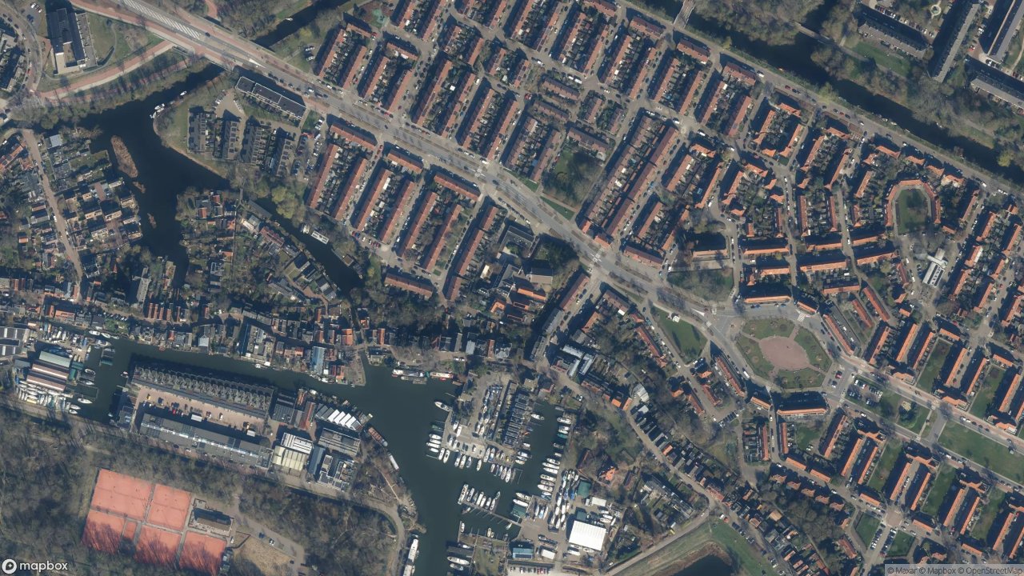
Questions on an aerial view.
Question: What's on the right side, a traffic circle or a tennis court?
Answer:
traffic circle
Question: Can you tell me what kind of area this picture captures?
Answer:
residential area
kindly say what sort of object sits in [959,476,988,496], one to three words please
house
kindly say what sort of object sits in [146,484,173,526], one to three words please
tennis court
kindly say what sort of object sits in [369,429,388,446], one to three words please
ship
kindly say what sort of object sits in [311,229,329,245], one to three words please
vessel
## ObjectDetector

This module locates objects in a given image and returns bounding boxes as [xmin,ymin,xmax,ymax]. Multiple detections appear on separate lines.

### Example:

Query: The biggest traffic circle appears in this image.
[724,308,845,400]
